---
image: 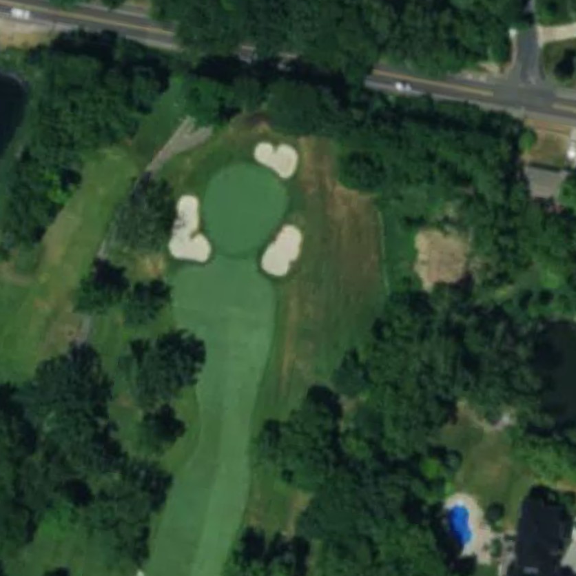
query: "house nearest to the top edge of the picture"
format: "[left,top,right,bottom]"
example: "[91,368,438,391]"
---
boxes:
[524,166,565,203]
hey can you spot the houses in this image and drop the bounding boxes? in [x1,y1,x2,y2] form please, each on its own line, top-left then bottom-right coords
[524,166,565,203]
[509,497,576,576]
